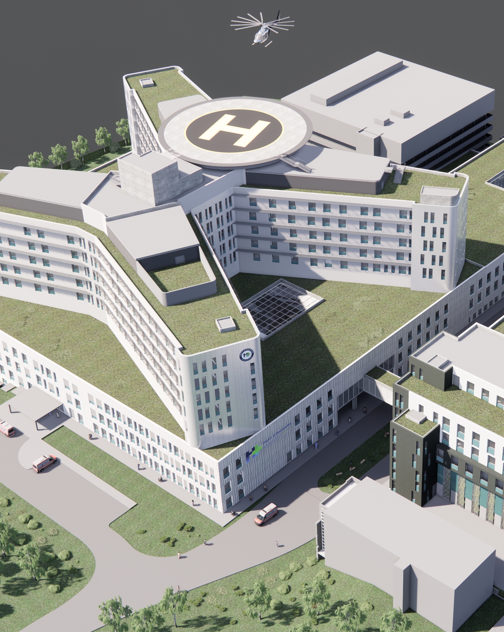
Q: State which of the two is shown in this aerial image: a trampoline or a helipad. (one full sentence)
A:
It is a helipad that can be seen here.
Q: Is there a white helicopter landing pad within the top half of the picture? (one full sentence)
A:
Yes, a white helicopter landing pad can be seen within the top half of the picture.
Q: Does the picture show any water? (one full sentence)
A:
No, there is no water in the image.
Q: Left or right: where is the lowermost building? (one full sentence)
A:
You can find the lowermost building on the right side of the picture.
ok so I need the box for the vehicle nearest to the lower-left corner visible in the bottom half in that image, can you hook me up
[30,457,57,477]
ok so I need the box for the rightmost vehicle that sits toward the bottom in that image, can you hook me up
[254,504,282,528]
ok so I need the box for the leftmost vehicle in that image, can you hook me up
[0,421,17,440]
